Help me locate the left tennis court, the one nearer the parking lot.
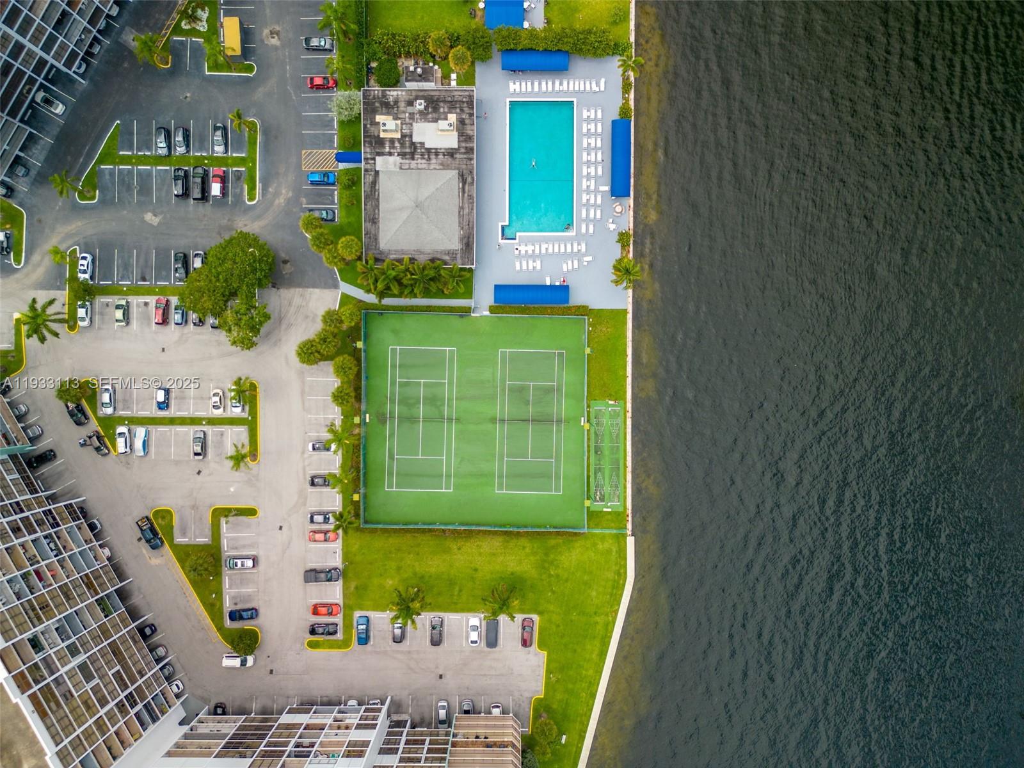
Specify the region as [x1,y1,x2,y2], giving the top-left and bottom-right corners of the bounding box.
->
[381,346,460,492]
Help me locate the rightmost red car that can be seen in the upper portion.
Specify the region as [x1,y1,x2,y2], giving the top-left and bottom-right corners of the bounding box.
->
[307,75,337,90]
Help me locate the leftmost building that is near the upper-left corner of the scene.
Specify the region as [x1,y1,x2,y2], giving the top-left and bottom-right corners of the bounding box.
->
[0,0,128,184]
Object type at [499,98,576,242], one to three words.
swimming pool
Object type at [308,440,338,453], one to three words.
vehicle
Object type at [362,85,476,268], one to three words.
building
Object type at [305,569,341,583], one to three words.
vehicle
